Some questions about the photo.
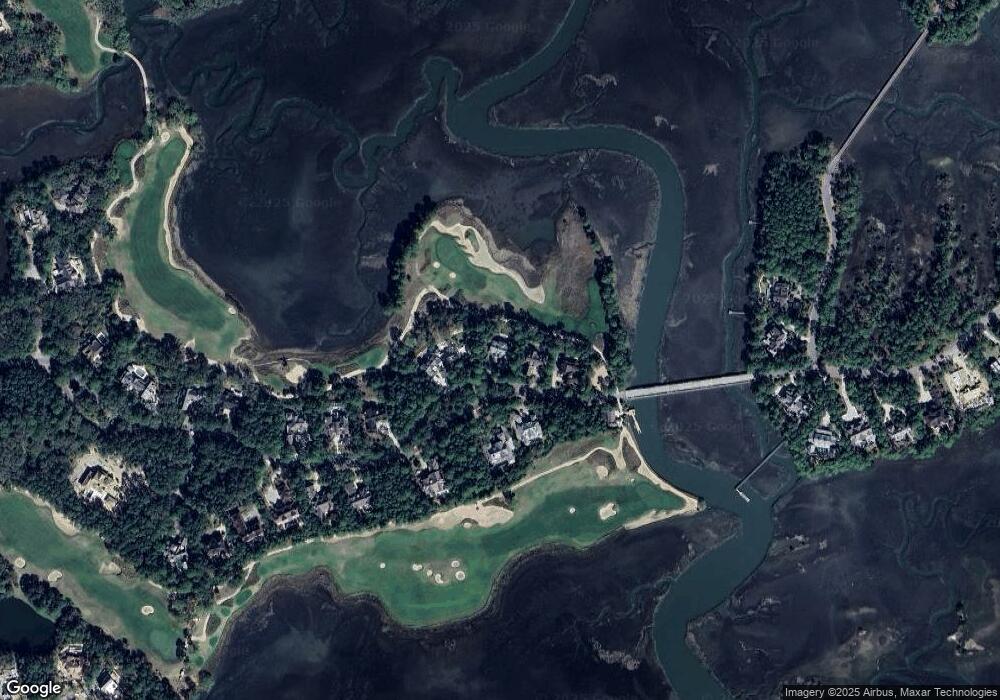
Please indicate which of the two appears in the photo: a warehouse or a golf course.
golf course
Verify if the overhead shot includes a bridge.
Yes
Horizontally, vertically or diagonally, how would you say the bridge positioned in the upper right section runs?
diagonally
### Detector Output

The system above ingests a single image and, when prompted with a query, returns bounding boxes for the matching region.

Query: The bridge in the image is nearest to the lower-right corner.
[617,374,751,399]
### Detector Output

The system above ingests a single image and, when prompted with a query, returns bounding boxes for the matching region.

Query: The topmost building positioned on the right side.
[768,281,801,311]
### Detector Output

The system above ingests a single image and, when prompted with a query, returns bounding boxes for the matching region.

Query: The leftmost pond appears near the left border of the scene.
[0,596,57,656]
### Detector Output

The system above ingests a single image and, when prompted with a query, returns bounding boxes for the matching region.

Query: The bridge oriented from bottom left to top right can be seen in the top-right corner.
[830,29,931,168]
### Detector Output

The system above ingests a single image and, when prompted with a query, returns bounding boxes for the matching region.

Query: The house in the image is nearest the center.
[486,334,509,364]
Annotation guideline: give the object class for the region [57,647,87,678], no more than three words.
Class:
house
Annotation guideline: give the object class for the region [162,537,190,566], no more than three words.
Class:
house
